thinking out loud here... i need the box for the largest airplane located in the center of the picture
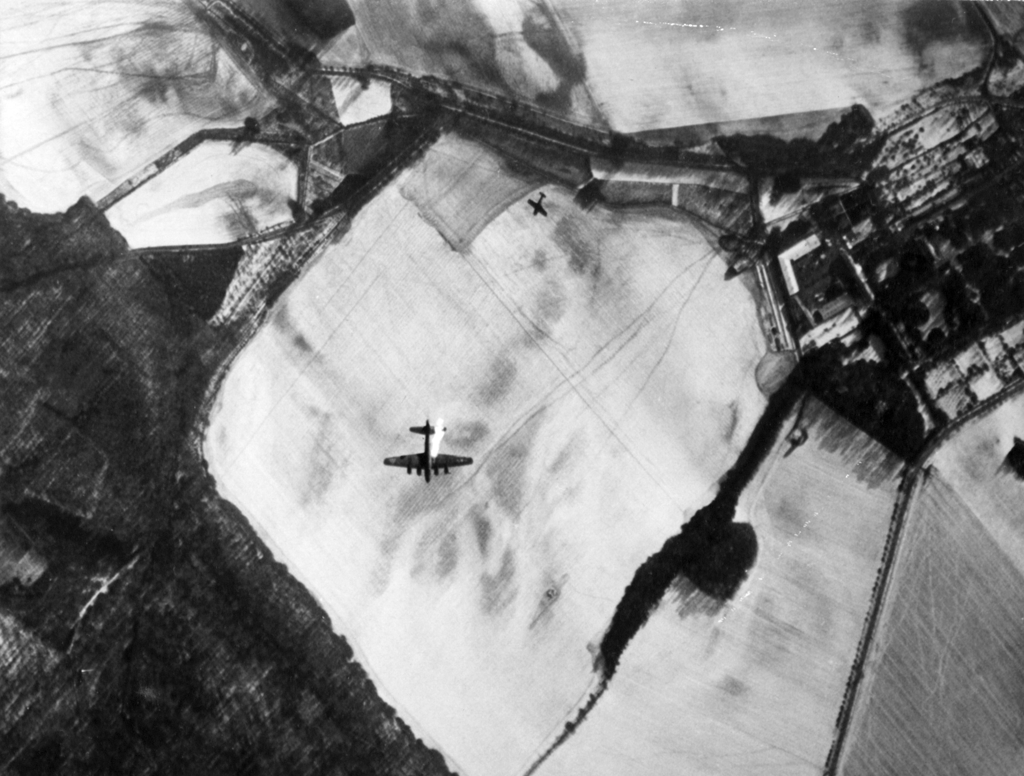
[383,420,473,483]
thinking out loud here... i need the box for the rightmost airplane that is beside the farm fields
[528,194,547,218]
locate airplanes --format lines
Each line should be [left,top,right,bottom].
[383,420,473,483]
[528,194,547,218]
